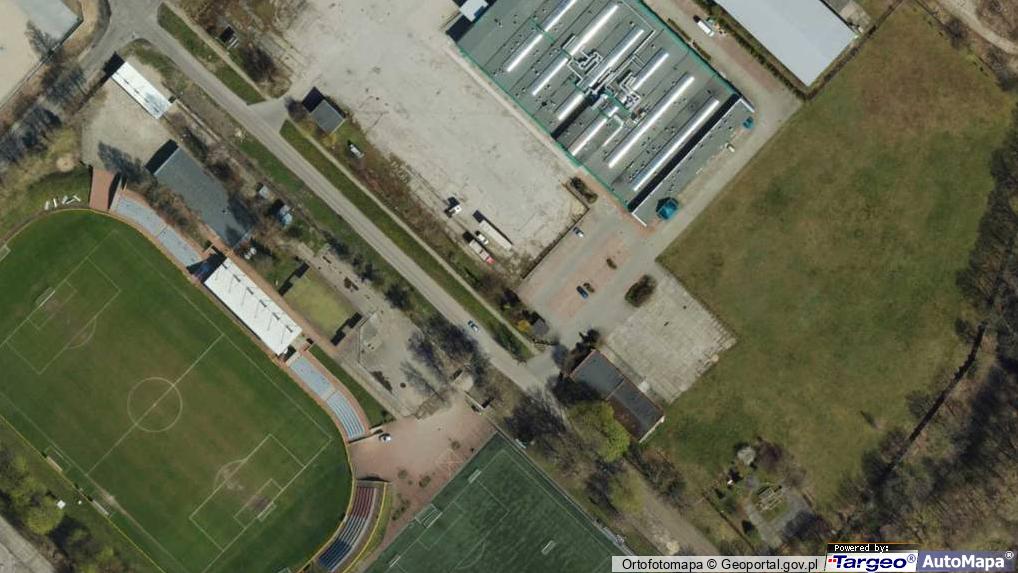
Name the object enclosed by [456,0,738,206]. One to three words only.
building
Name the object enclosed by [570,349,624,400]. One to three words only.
house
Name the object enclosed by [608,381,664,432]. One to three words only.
building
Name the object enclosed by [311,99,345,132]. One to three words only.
shed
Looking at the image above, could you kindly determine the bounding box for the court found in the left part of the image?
[283,267,362,342]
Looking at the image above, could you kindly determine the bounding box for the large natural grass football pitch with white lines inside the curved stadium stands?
[0,209,351,573]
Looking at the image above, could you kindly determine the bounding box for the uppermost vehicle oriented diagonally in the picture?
[698,19,713,35]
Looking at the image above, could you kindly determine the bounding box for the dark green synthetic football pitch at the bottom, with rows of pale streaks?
[367,436,654,573]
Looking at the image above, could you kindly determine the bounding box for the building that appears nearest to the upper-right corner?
[714,0,858,86]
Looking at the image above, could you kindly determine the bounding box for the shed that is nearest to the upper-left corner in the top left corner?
[111,61,171,118]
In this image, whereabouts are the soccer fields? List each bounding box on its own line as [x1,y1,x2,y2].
[0,209,351,573]
[367,436,654,573]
